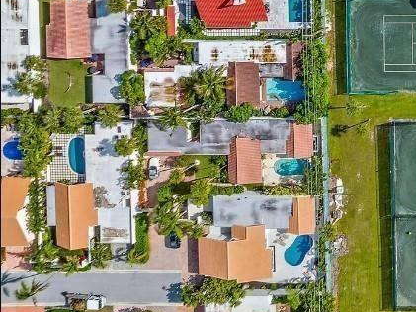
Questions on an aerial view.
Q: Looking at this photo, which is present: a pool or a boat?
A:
pool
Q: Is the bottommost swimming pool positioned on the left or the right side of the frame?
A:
right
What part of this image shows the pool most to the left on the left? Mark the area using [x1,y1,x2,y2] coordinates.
[0,137,25,163]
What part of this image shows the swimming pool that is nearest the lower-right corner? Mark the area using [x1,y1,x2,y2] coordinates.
[282,235,312,268]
